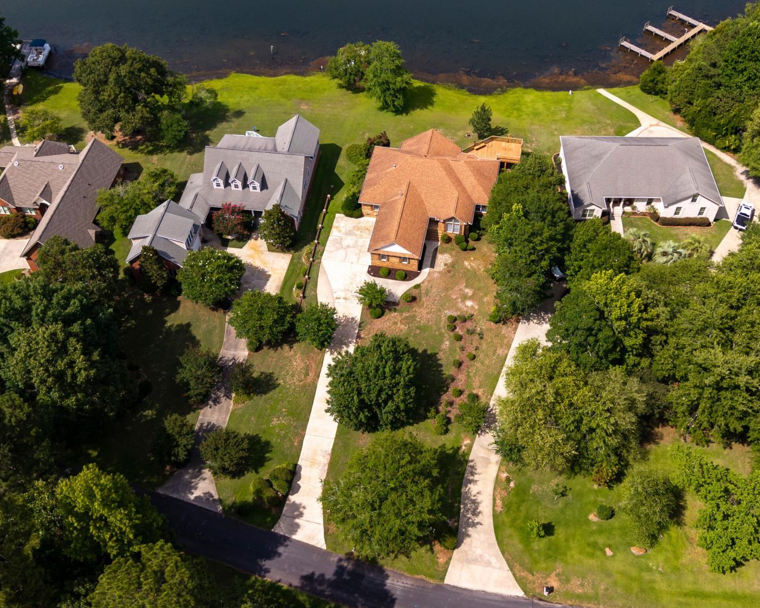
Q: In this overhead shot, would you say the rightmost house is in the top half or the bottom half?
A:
top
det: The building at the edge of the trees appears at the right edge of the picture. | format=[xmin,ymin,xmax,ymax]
[559,135,726,225]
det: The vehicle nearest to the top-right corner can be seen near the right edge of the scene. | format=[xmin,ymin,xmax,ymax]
[734,202,755,228]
